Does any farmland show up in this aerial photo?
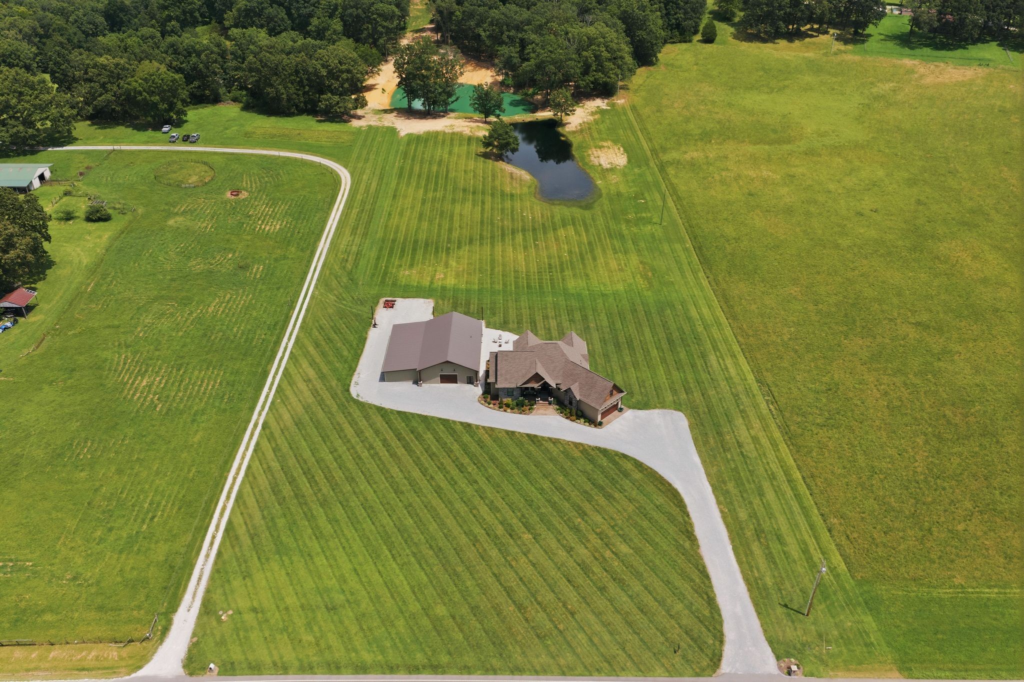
Yes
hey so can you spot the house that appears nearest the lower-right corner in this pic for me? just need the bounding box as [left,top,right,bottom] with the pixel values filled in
[488,330,627,421]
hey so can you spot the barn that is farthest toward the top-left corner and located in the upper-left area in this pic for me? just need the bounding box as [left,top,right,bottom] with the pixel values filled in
[0,163,55,193]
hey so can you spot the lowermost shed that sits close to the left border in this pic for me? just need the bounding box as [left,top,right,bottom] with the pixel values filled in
[0,289,40,319]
